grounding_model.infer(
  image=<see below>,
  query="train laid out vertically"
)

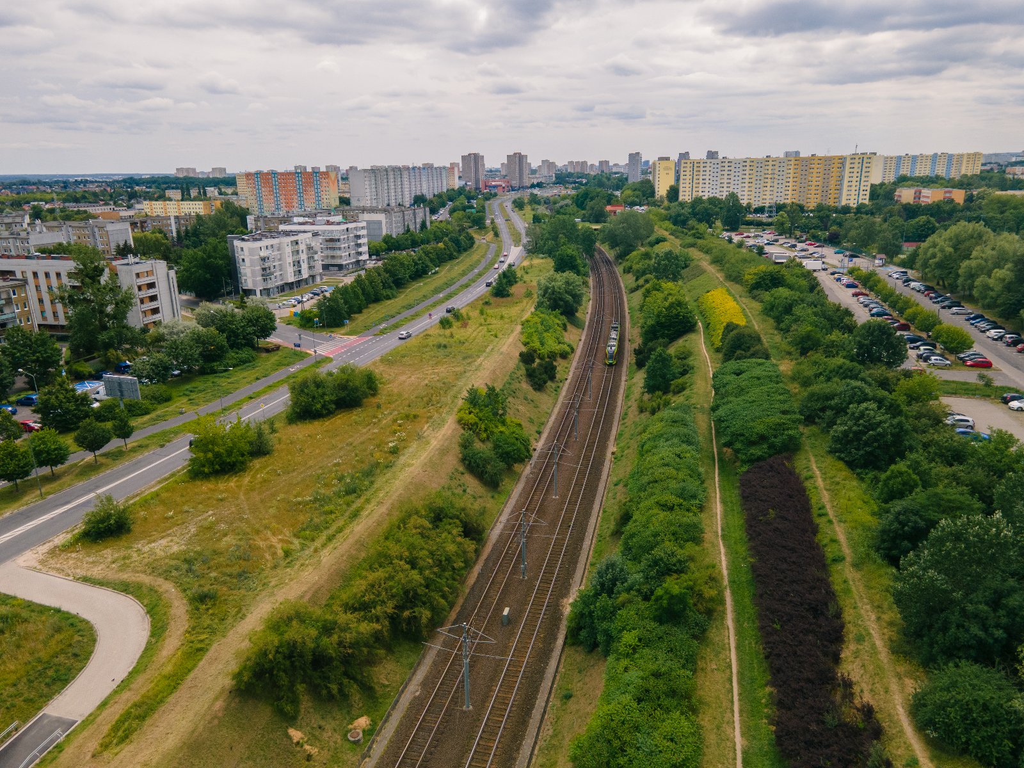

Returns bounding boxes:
[605,322,619,363]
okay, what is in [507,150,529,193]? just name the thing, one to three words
building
